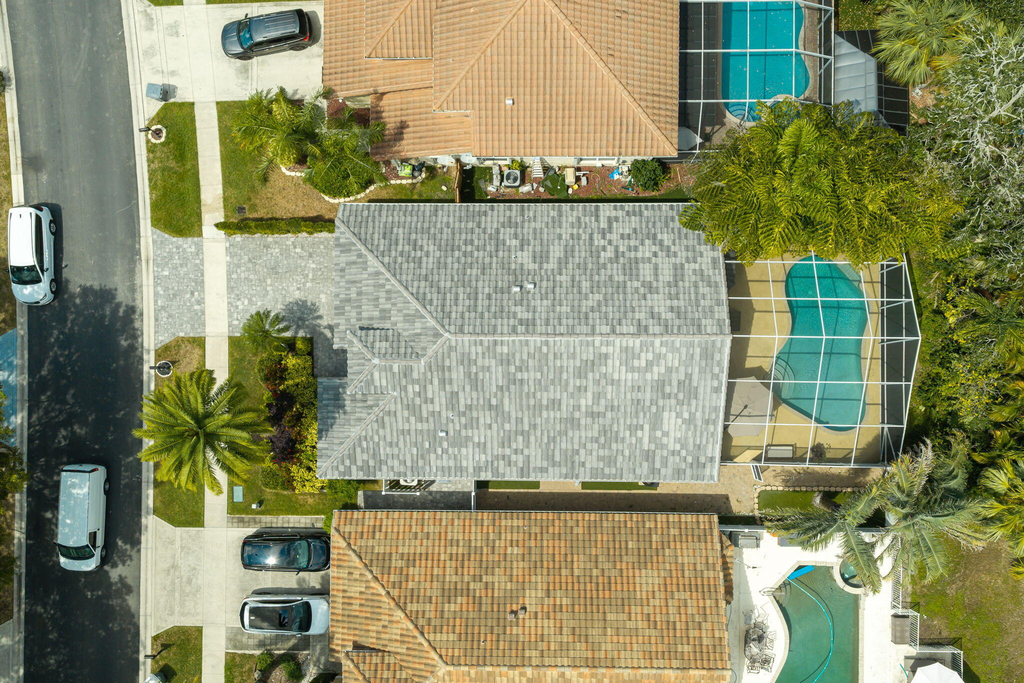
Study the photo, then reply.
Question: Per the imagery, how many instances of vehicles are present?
5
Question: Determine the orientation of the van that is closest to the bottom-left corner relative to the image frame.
vertically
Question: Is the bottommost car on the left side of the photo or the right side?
left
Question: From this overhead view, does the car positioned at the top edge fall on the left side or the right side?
left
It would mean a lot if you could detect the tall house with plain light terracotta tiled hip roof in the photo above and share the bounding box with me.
[321,0,681,166]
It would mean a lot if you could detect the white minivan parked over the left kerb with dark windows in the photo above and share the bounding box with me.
[5,205,55,304]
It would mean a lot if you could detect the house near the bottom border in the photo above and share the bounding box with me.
[327,509,735,683]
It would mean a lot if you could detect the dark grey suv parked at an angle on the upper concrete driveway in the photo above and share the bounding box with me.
[222,9,316,60]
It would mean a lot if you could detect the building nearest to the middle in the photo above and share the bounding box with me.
[316,201,733,482]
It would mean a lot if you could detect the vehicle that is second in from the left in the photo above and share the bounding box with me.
[52,465,107,572]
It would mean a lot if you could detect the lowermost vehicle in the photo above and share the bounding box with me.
[237,593,328,637]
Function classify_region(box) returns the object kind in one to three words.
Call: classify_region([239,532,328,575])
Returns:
car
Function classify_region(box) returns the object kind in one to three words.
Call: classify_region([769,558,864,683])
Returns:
swimming pool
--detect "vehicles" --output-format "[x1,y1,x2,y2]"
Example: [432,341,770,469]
[222,9,316,60]
[52,465,107,572]
[237,593,328,637]
[239,532,328,575]
[5,205,55,304]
